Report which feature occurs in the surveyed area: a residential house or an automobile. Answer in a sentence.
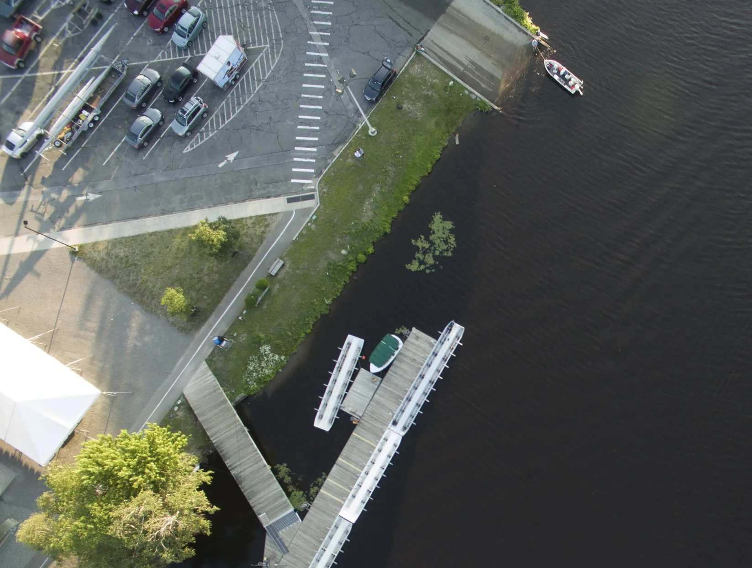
Looking from above, you can make out an automobile.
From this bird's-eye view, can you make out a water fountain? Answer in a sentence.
No, no water fountain is visible in the view.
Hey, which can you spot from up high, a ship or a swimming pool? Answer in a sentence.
I can see a ship in this picture.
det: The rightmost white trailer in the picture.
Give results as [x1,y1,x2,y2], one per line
[197,32,247,91]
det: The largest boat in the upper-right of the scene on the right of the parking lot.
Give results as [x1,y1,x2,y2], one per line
[544,59,583,95]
